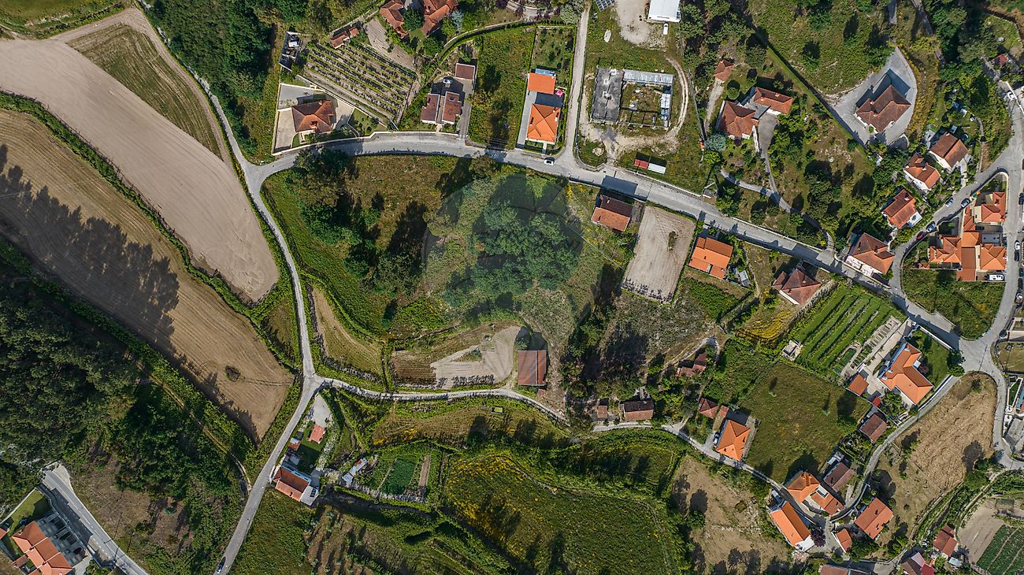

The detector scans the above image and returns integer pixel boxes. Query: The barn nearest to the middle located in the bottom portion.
[517,350,546,388]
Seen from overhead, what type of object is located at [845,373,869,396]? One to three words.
shed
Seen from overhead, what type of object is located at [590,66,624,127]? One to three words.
building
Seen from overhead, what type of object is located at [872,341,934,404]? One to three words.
house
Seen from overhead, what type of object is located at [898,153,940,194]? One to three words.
house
